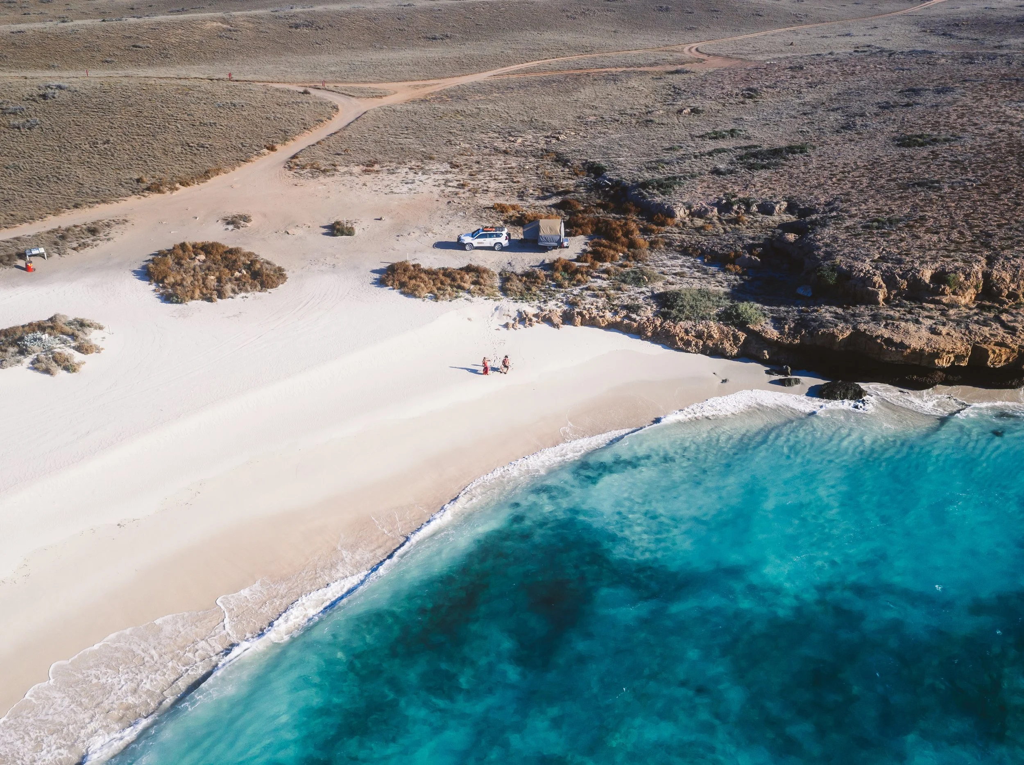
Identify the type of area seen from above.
beach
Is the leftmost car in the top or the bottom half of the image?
top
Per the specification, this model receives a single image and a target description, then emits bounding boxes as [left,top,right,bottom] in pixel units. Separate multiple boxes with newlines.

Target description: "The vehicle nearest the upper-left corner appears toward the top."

[455,223,512,251]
